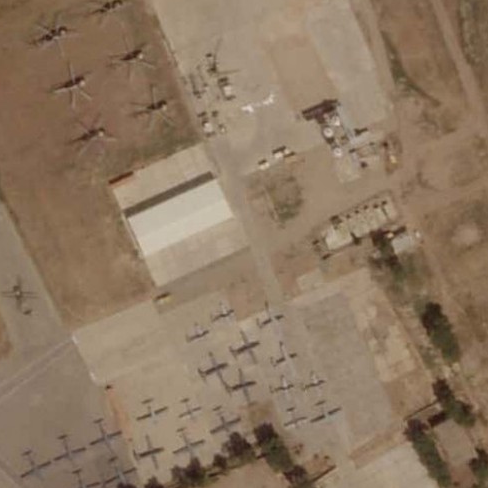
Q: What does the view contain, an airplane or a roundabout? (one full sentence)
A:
Visible in the photo is an airplane.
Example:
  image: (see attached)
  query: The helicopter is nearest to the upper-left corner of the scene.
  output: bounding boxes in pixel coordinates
[30,13,77,53]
